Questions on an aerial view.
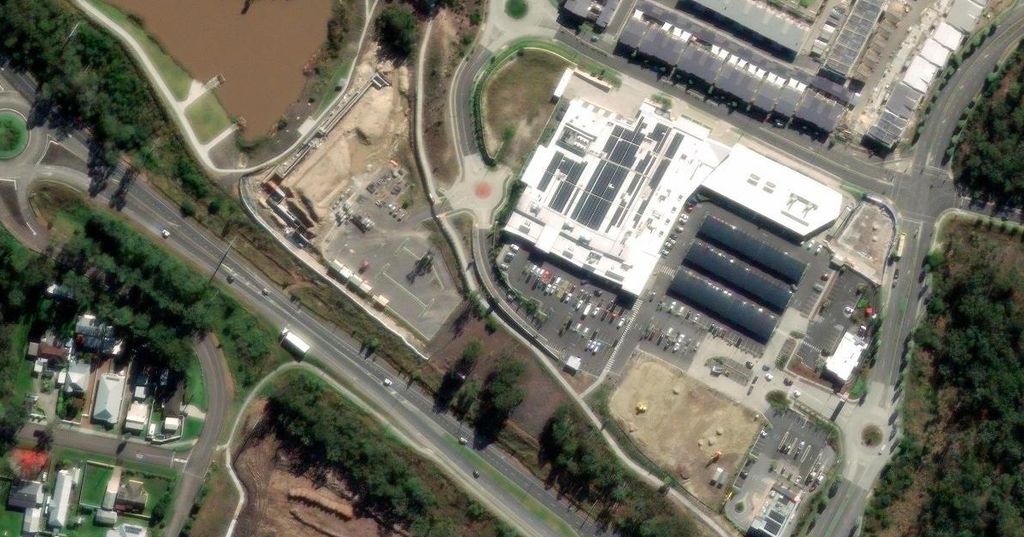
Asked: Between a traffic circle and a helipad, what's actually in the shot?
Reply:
traffic circle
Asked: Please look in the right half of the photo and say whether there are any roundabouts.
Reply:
Yes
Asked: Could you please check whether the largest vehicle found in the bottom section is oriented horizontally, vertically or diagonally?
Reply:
diagonally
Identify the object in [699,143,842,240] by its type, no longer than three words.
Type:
building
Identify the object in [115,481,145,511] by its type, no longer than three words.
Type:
house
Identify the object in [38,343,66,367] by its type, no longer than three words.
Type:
house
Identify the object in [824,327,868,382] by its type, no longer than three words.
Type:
building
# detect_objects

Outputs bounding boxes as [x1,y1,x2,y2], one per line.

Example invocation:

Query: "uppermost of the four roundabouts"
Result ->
[484,0,549,39]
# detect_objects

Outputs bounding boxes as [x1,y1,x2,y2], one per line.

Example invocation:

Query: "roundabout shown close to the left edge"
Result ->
[0,90,45,179]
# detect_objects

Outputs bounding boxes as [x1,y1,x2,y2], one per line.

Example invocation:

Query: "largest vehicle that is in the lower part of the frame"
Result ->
[283,333,311,355]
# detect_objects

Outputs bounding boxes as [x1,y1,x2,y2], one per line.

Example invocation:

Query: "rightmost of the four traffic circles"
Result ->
[844,408,900,464]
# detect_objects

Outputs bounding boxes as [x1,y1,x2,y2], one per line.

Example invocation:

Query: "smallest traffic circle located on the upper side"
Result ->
[463,170,503,209]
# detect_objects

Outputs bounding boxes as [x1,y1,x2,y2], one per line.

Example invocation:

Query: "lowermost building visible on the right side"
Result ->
[743,487,801,537]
